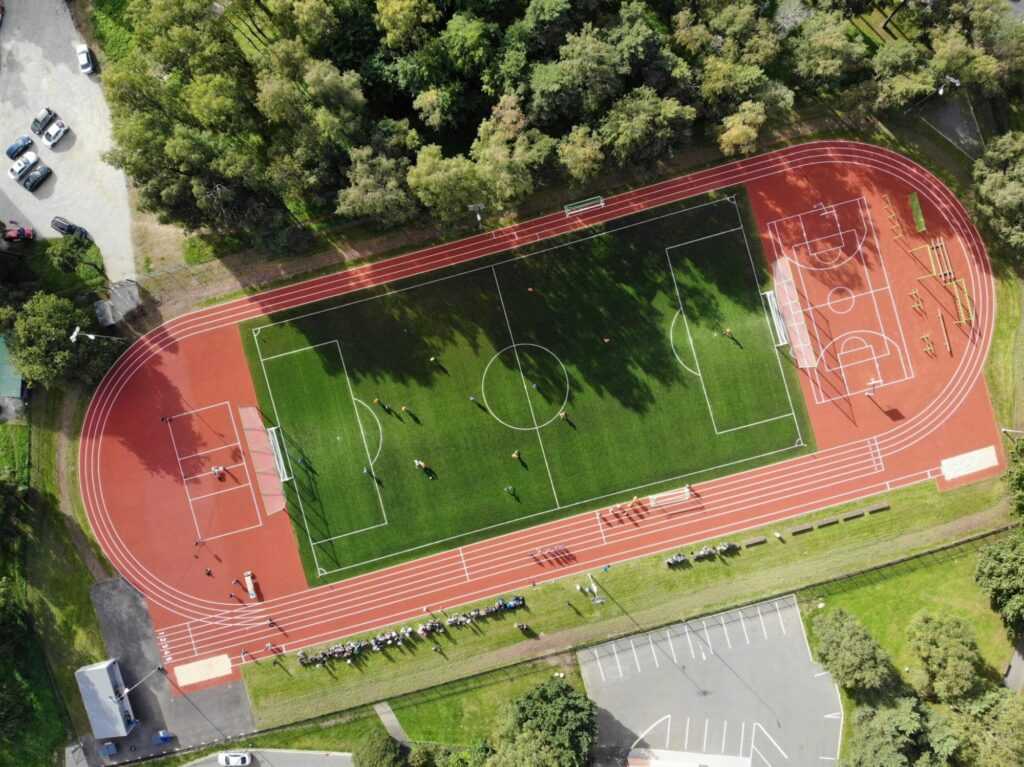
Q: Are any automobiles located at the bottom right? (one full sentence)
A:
No, no automobile is visible at the bottom right.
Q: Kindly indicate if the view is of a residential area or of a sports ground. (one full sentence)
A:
The area seen from above is a sports ground.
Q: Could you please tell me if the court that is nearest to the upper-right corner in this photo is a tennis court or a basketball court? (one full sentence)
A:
It looks like the court that is nearest to the upper-right corner is a basketball court.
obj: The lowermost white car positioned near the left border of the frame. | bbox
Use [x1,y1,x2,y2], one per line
[8,153,40,179]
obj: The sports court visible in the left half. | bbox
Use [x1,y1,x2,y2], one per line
[168,402,262,542]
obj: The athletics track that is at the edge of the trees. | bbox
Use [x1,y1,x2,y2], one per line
[78,142,1005,697]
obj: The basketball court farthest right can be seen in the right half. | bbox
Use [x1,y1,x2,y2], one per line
[767,196,914,404]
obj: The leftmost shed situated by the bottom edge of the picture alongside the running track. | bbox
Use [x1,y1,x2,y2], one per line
[73,658,134,739]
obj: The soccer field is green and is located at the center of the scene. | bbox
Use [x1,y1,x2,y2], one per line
[239,186,819,587]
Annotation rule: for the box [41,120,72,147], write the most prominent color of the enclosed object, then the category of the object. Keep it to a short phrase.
white car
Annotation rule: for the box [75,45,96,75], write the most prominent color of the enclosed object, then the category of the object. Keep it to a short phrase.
white car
